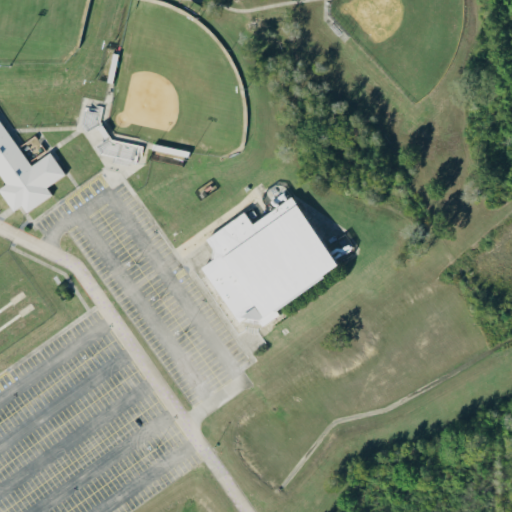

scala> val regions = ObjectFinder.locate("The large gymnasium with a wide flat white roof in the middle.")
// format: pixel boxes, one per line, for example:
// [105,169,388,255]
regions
[202,196,342,326]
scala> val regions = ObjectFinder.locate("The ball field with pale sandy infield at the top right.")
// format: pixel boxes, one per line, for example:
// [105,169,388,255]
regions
[331,0,464,102]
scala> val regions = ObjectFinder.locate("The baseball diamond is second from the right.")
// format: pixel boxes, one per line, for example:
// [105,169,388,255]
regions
[110,0,248,161]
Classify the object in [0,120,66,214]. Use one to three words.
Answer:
building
